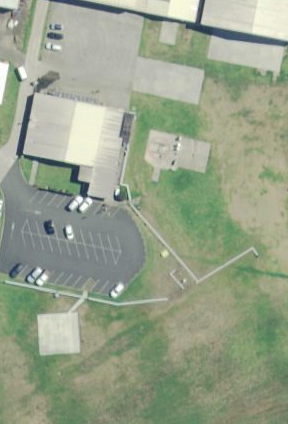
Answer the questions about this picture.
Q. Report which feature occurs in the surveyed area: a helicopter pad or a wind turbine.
helicopter pad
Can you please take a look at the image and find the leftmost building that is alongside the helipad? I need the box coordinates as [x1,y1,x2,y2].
[22,92,124,200]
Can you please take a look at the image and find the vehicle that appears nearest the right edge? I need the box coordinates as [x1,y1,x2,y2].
[110,282,124,298]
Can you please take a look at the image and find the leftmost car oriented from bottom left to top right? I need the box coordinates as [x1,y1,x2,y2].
[10,264,24,278]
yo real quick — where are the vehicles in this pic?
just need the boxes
[78,198,92,212]
[49,24,63,30]
[68,196,83,210]
[27,268,42,282]
[16,64,28,83]
[45,43,61,50]
[46,32,62,40]
[66,226,73,240]
[10,264,24,278]
[110,282,124,298]
[46,220,54,234]
[36,270,51,286]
